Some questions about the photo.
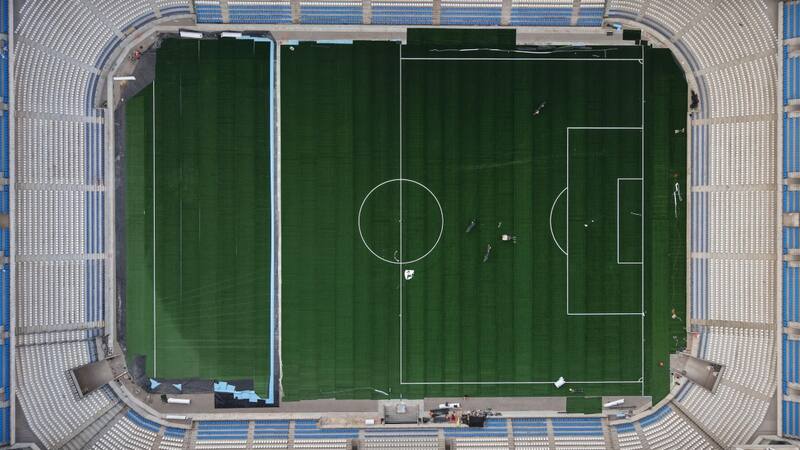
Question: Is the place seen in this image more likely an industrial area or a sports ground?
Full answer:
What you see here is a sports ground.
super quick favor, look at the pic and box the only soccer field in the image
[126,39,685,402]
